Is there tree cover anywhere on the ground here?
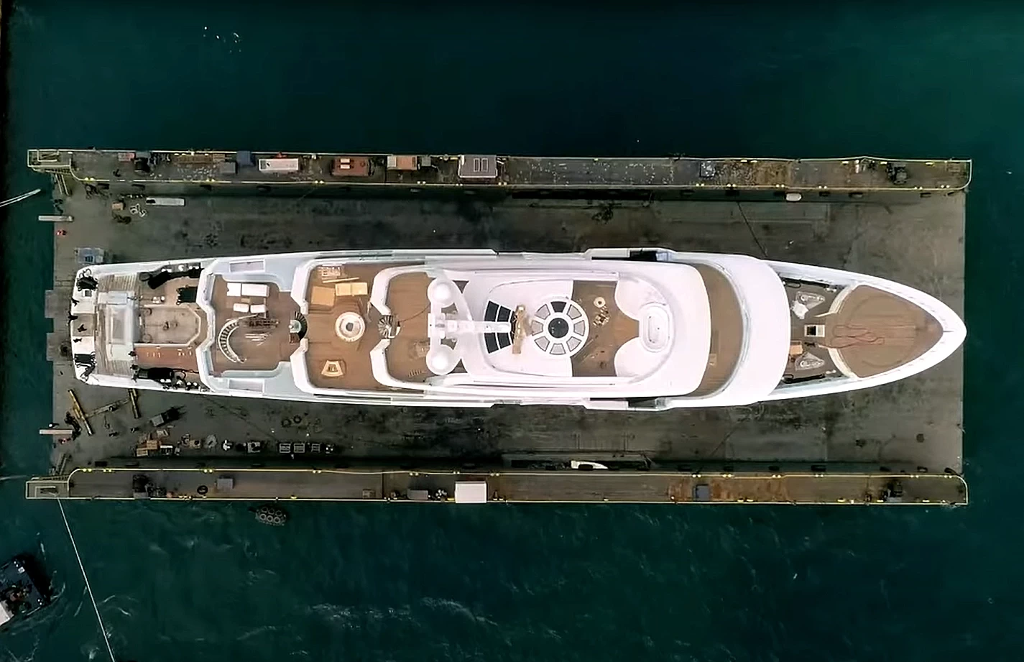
No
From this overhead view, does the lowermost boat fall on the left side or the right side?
left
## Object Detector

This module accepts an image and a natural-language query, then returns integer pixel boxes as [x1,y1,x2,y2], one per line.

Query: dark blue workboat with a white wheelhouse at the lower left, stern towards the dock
[0,551,56,633]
